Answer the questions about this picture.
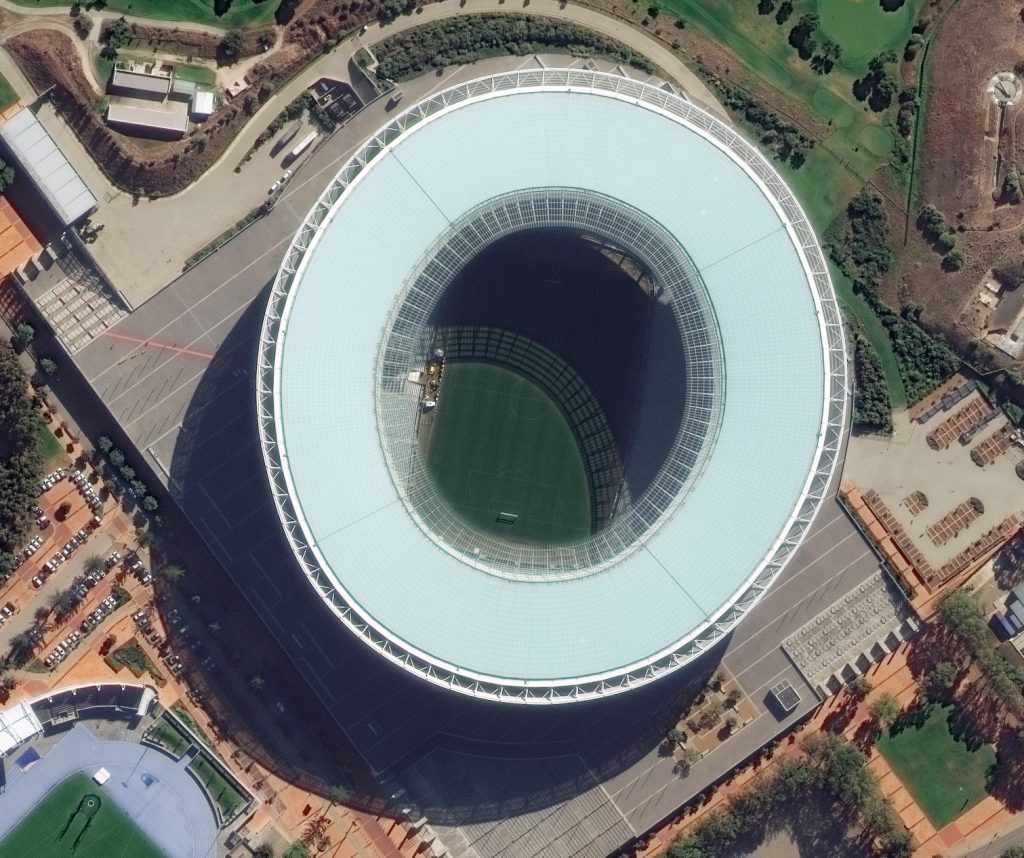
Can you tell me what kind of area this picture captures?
sports ground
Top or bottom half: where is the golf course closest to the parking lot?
top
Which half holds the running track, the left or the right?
left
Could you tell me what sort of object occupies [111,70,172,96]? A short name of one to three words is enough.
house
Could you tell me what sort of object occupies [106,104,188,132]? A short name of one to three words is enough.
house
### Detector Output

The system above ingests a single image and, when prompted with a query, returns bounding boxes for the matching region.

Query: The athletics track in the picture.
[0,724,218,858]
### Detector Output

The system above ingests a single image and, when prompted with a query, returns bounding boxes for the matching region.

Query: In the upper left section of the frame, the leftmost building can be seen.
[0,106,97,228]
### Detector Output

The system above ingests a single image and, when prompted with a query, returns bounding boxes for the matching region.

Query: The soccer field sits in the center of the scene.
[424,257,634,542]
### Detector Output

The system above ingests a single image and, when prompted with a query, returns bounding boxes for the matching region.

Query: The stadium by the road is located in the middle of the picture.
[255,66,852,706]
